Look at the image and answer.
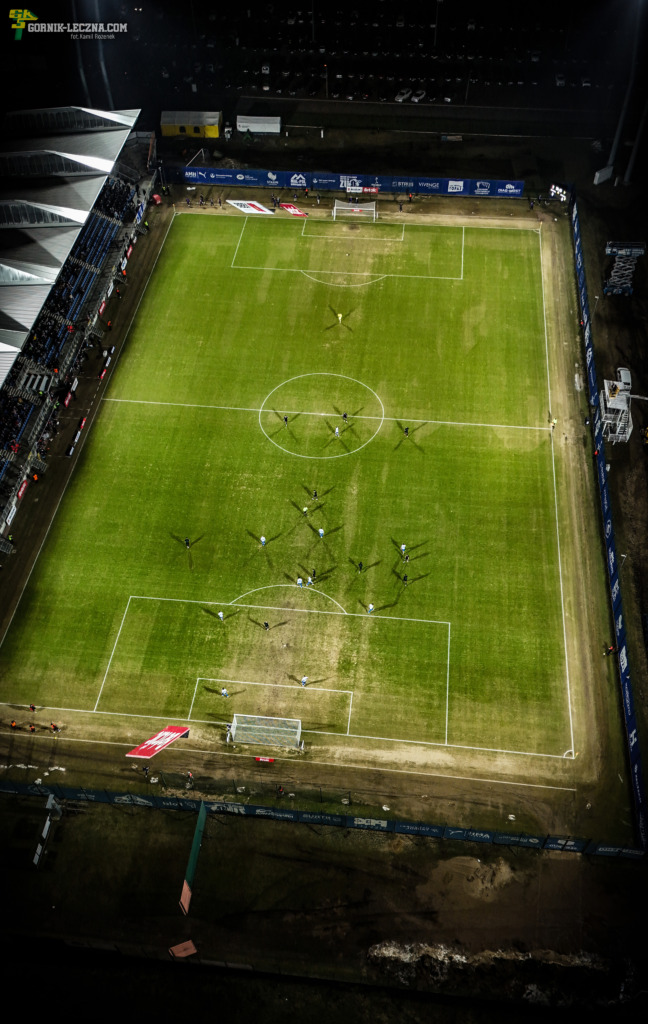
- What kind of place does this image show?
sports ground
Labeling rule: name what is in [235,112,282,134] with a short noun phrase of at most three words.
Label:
trailer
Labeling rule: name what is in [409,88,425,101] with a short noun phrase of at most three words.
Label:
vehicle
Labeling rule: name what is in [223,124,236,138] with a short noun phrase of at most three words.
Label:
vehicle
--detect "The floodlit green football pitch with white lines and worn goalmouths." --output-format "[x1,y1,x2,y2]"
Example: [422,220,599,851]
[0,212,576,760]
